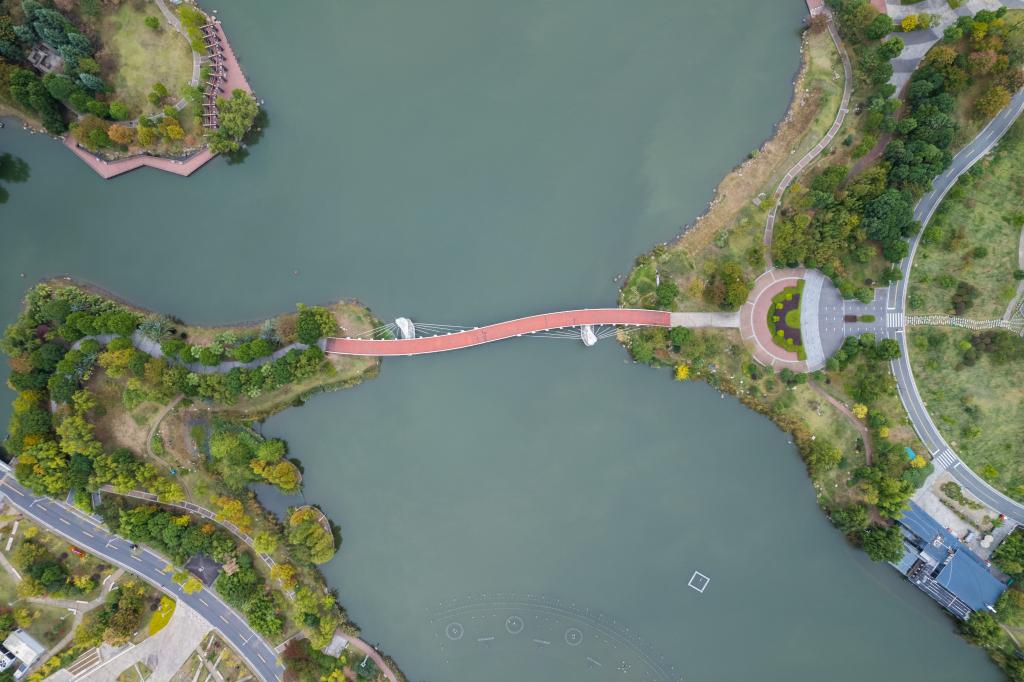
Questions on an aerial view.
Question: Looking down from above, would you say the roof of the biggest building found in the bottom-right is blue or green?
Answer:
blue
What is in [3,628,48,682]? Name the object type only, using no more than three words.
building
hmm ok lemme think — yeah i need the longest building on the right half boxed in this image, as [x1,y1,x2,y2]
[888,500,1006,622]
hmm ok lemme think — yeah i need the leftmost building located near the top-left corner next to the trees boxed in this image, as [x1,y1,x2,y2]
[28,42,64,74]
